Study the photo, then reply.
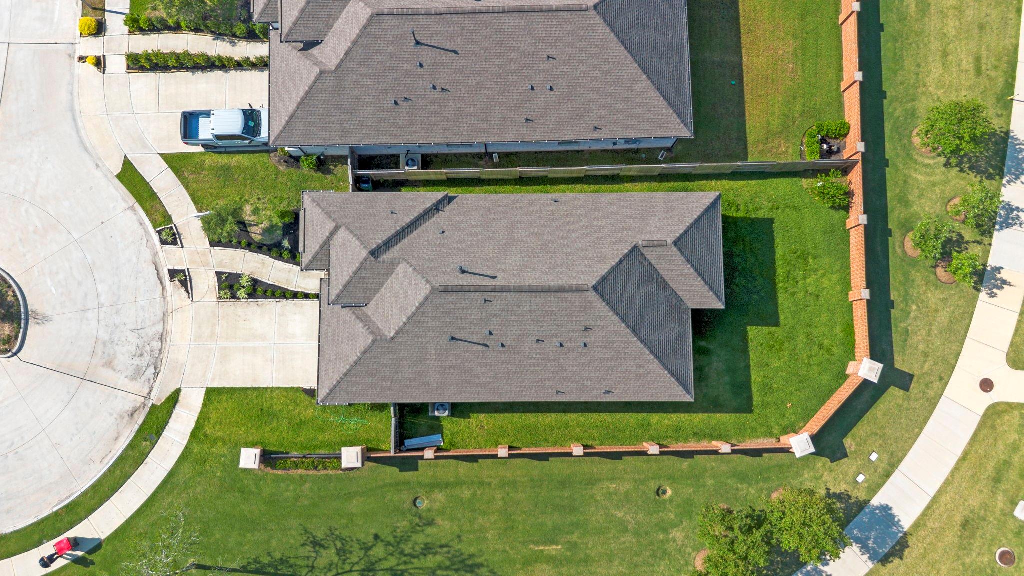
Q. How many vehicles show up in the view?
1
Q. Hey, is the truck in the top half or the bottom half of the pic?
top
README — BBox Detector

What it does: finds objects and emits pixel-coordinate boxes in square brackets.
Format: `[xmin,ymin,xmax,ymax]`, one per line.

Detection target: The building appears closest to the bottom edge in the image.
[296,189,726,406]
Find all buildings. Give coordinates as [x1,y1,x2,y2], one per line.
[296,189,726,406]
[247,0,696,158]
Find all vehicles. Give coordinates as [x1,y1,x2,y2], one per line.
[180,107,270,150]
